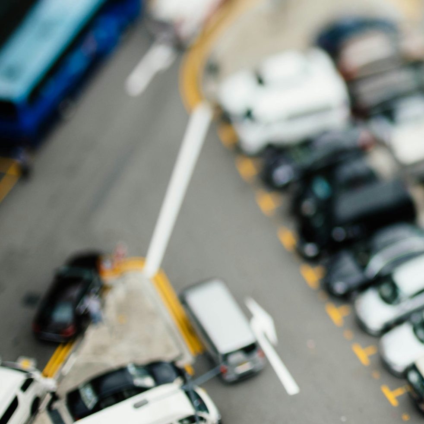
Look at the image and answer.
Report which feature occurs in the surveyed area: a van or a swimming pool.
van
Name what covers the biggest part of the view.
paved ground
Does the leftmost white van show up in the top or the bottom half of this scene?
bottom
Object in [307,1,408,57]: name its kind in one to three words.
car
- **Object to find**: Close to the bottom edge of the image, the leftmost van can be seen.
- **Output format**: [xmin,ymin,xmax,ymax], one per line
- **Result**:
[0,366,57,424]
